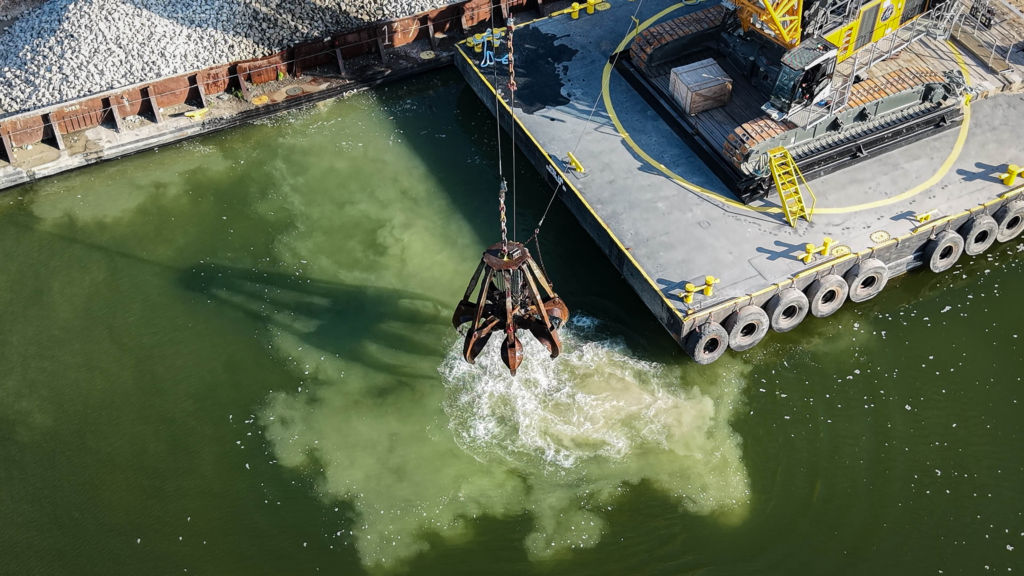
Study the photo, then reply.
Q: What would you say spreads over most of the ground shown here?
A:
water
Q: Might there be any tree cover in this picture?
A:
No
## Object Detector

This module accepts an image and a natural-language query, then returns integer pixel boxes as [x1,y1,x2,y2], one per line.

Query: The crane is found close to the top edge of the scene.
[628,0,955,171]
